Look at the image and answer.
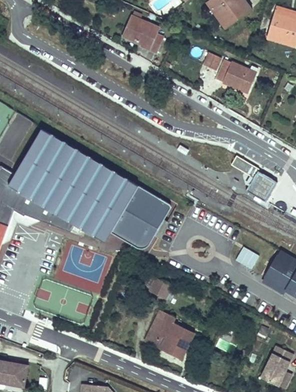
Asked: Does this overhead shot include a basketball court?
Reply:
Yes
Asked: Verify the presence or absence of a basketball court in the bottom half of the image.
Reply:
Yes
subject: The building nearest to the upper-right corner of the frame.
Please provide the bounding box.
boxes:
[268,5,296,48]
